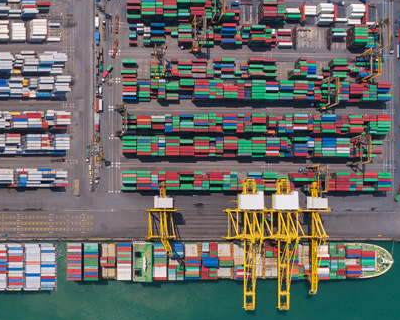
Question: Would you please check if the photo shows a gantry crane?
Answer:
Yes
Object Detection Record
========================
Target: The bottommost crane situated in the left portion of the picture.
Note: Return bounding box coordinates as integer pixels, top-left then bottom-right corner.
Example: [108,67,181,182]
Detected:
[137,182,179,251]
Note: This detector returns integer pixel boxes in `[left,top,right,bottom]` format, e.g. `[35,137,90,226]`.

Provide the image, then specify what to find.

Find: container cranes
[137,182,179,251]
[111,102,128,135]
[365,15,390,51]
[316,74,339,109]
[148,42,165,77]
[305,161,328,193]
[187,15,206,51]
[216,176,268,312]
[347,131,371,163]
[252,176,305,312]
[285,185,332,294]
[357,45,381,79]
